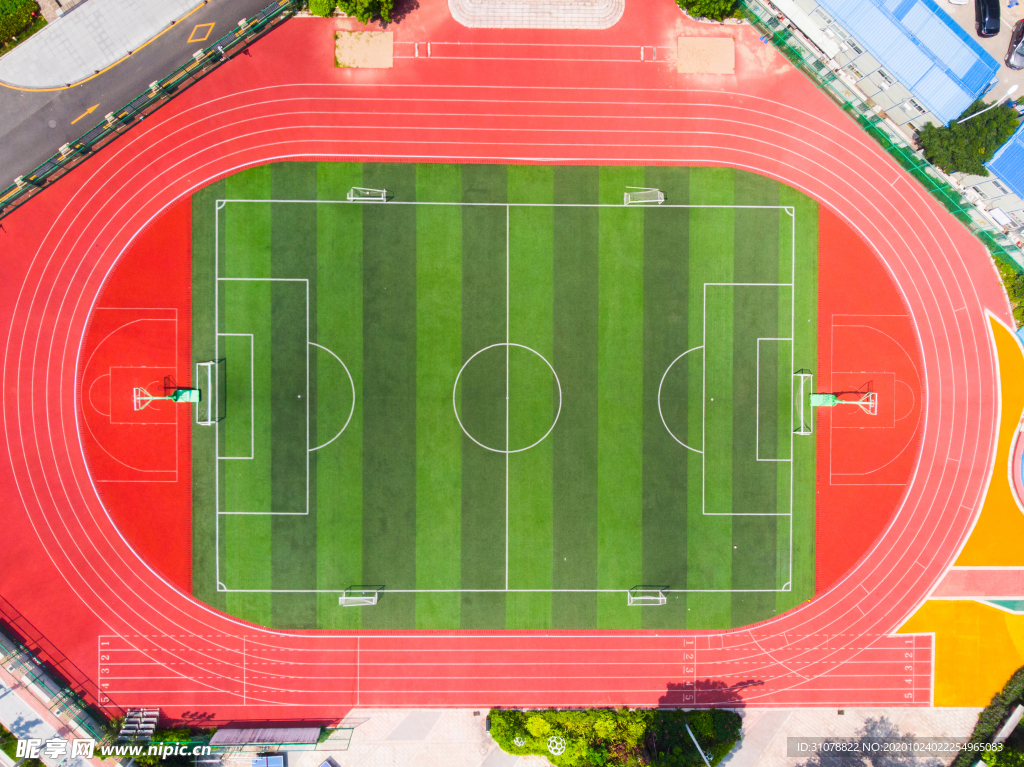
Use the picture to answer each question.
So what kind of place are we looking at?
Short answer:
sports ground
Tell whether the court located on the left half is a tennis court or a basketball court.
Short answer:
basketball court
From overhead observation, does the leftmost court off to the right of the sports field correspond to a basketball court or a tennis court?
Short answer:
basketball court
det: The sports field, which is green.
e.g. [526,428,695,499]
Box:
[192,163,820,630]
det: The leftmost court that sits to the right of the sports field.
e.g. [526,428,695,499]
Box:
[815,205,921,595]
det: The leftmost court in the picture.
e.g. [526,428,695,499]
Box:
[81,196,192,596]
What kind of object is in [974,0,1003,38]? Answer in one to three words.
car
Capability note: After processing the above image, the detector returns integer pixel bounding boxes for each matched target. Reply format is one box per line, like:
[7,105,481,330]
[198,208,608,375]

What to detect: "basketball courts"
[815,205,921,595]
[81,196,192,596]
